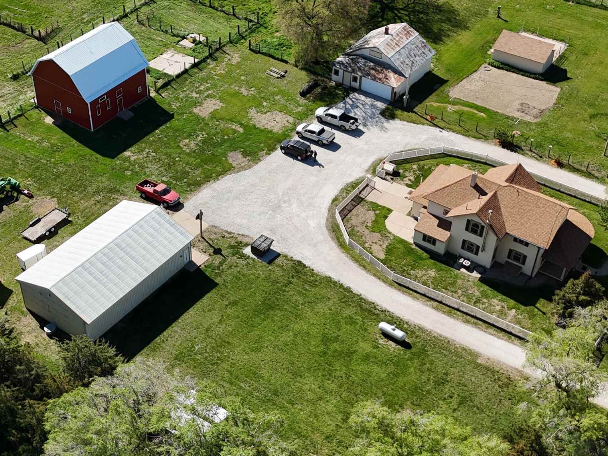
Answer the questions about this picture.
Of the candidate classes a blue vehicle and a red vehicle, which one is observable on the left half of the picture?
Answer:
red vehicle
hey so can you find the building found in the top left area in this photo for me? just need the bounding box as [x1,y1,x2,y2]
[26,20,152,130]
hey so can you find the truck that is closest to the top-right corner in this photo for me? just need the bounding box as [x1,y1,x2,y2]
[312,108,360,132]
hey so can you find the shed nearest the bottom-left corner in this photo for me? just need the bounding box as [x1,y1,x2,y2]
[17,203,195,334]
